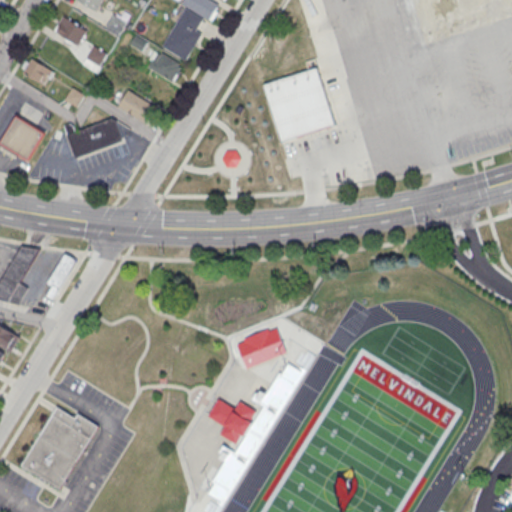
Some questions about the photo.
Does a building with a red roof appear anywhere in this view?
Yes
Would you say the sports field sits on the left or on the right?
right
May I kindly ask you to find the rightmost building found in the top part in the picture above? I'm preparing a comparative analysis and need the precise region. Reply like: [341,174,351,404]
[264,68,335,141]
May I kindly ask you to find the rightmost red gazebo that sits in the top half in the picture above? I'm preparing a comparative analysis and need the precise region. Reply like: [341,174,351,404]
[223,150,242,166]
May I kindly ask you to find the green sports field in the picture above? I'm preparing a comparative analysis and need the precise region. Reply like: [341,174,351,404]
[249,322,474,512]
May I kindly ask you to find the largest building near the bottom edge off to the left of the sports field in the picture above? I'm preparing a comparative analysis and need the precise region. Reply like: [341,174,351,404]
[22,408,100,490]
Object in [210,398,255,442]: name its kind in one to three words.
building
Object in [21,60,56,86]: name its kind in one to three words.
house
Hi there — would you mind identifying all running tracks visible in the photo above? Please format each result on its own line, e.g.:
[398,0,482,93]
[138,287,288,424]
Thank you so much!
[224,300,496,512]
